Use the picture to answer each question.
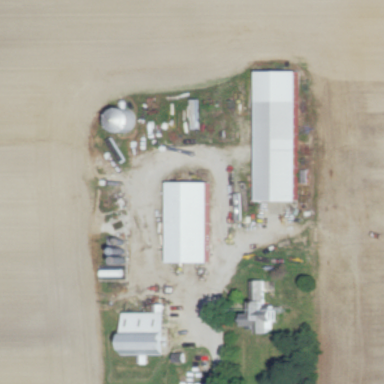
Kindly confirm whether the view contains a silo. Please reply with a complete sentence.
Yes, a silo is visible in the scene.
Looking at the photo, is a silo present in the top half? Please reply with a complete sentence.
Yes, a silo is visible in the top half.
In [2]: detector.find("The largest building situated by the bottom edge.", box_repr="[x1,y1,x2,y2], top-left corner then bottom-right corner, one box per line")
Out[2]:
[113,304,168,366]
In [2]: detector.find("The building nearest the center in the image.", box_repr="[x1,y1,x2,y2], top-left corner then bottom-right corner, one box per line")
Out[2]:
[162,182,209,264]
